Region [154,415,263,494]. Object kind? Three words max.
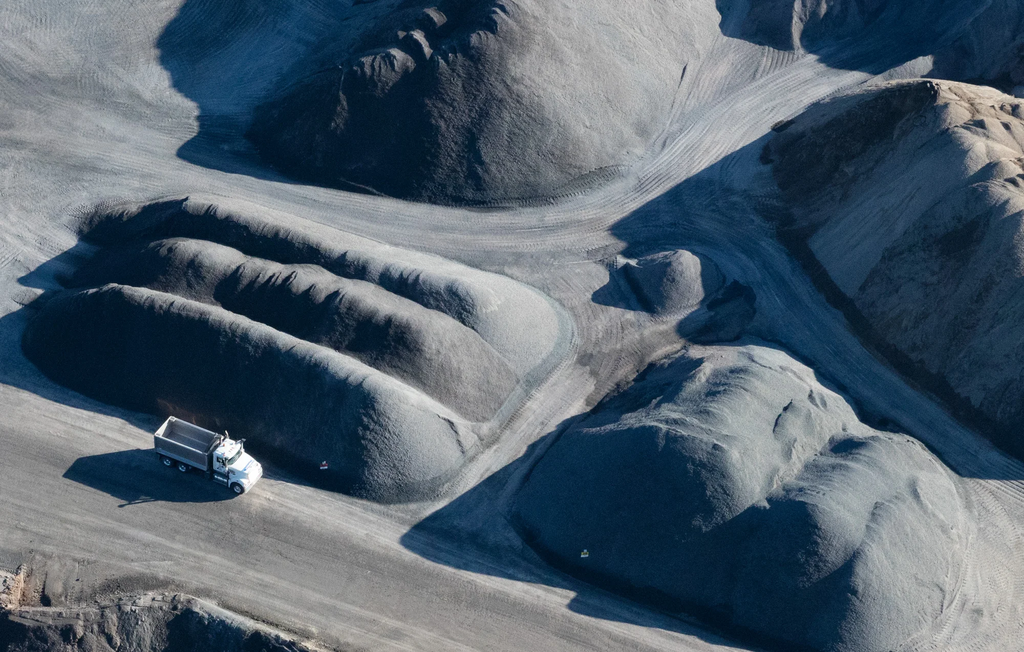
truck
